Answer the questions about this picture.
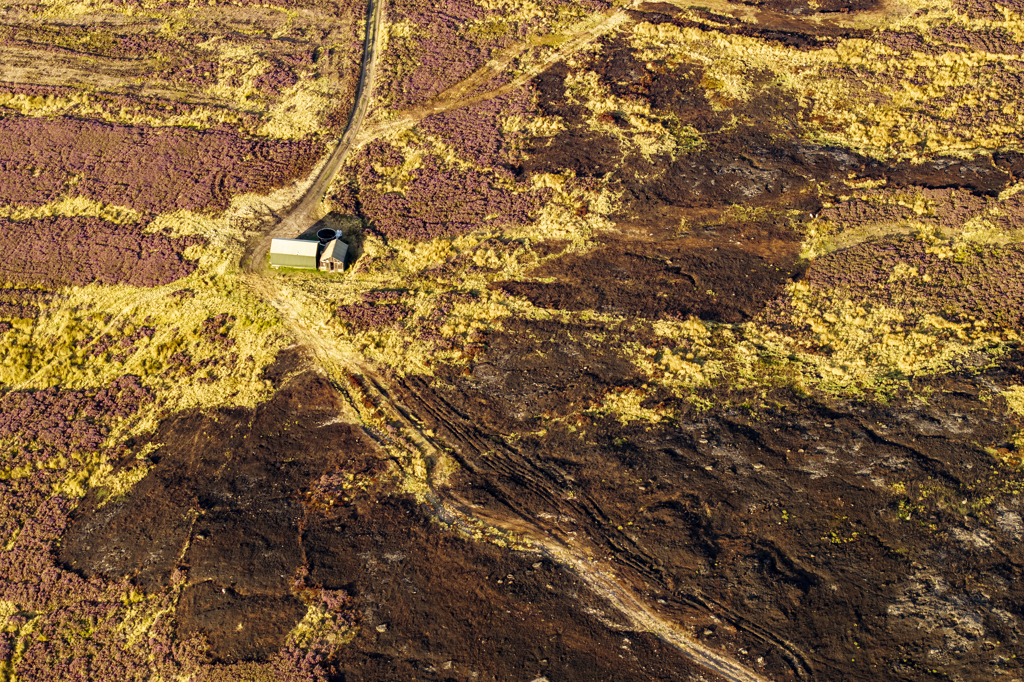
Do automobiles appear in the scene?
No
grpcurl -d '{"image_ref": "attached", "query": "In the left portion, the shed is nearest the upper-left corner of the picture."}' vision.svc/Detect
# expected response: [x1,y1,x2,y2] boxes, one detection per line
[270,236,321,269]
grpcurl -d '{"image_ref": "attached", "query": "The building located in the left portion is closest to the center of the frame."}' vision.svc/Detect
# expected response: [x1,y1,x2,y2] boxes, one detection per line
[319,238,349,272]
